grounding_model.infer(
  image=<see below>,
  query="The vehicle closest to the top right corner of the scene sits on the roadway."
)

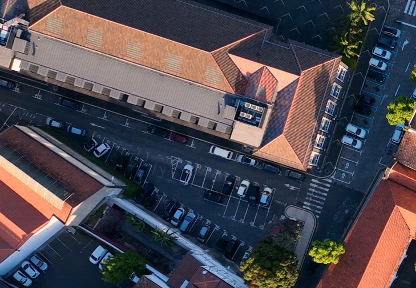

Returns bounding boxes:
[380,25,402,39]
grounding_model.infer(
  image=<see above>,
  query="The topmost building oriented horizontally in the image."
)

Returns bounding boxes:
[0,0,353,172]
